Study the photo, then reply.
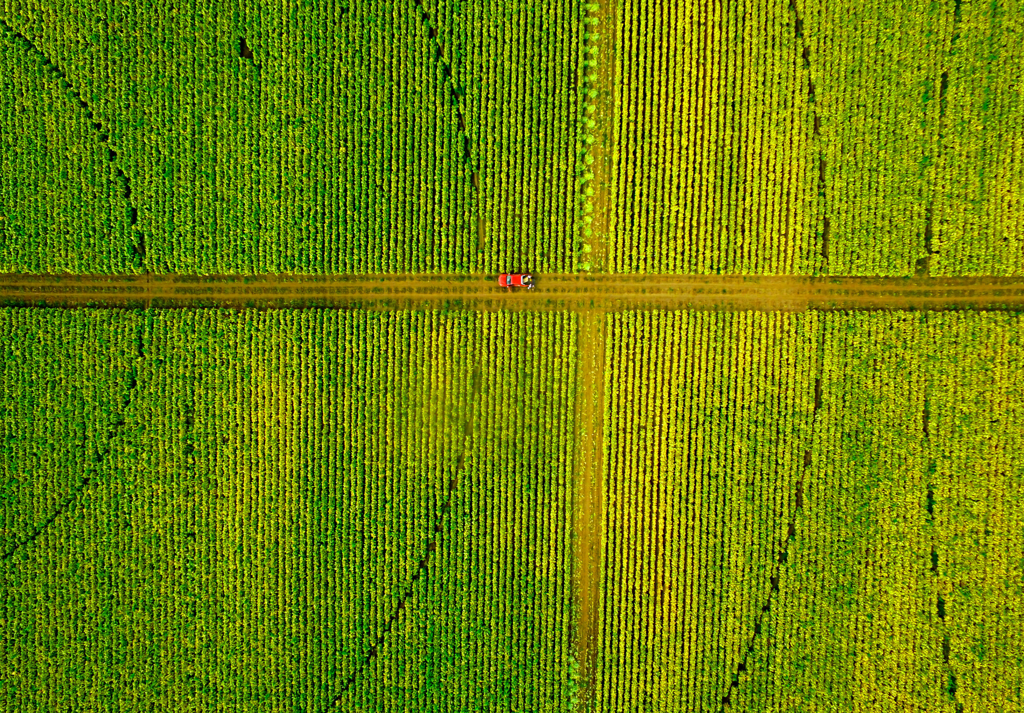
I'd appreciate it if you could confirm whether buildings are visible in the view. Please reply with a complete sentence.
No, there's no building here.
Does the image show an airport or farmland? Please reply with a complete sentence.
The picture captures farmland.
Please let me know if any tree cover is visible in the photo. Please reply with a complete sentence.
No, no tree cover is visible.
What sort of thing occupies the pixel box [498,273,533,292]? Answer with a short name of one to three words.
vehicle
